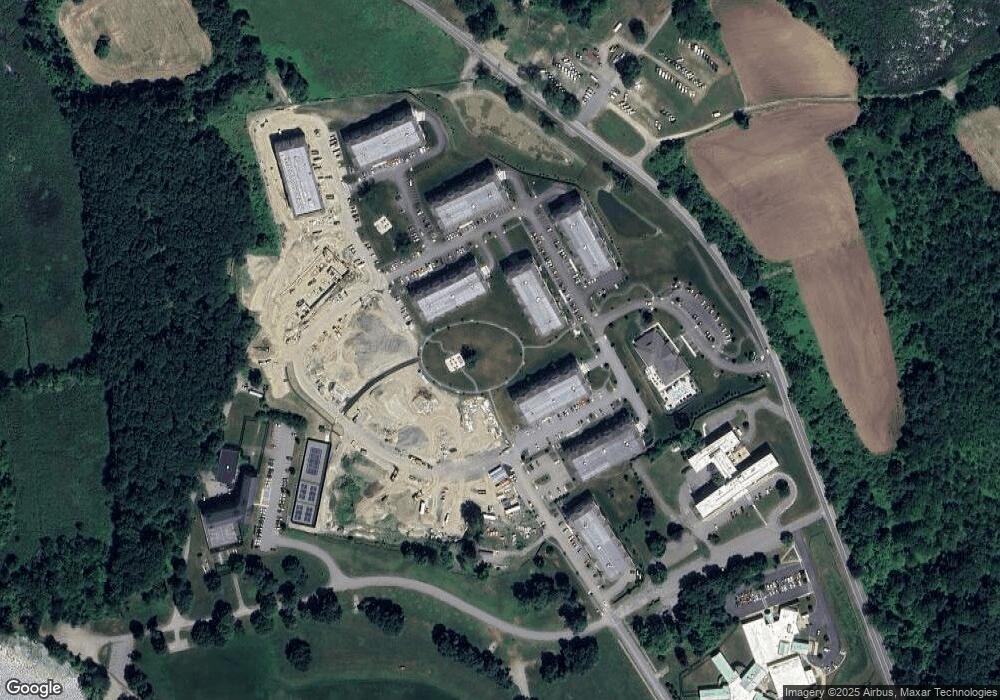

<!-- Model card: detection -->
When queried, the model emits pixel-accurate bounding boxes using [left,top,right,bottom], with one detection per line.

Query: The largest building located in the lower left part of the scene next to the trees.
[201,475,257,553]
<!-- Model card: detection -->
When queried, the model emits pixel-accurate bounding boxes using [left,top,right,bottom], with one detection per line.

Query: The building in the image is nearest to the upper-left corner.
[273,140,327,220]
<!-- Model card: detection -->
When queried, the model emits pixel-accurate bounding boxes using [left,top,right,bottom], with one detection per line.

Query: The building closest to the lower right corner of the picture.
[699,606,816,700]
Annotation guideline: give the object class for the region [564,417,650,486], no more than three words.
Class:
building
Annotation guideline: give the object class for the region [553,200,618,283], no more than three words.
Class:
building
